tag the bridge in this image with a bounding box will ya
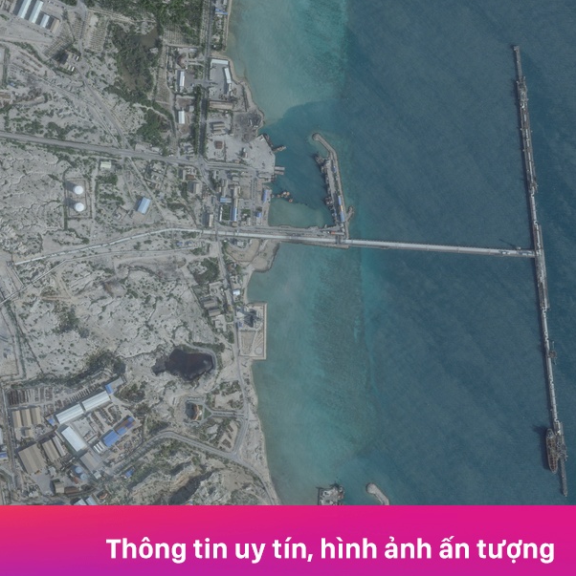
[342,239,536,257]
